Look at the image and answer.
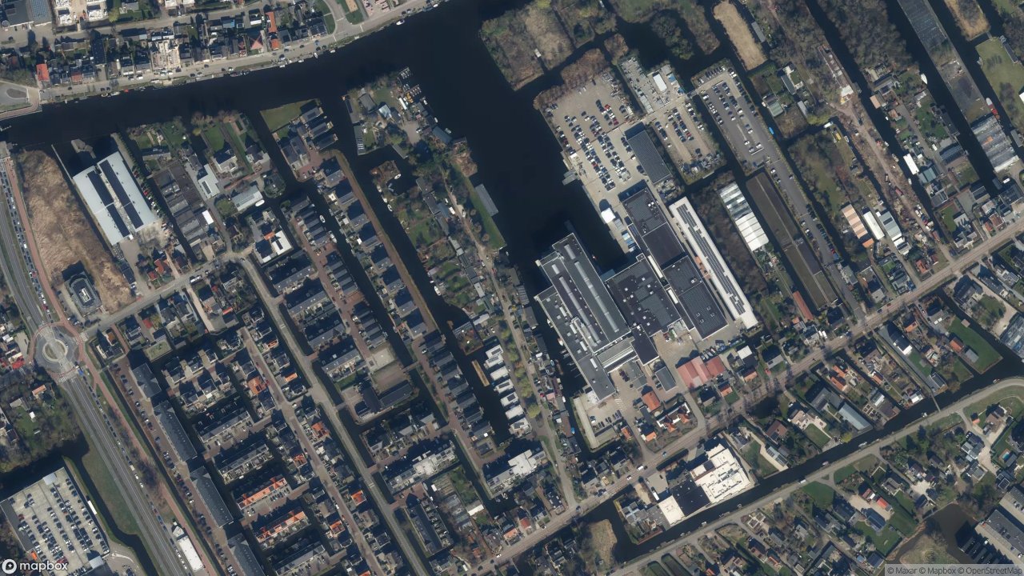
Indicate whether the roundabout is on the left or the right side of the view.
left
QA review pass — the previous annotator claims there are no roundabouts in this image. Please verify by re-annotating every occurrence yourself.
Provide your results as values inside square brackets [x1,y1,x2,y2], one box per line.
[32,327,80,378]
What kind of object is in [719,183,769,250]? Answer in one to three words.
shed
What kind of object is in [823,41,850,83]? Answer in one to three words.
shed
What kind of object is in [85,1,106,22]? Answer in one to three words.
house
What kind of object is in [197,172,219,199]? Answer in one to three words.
building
